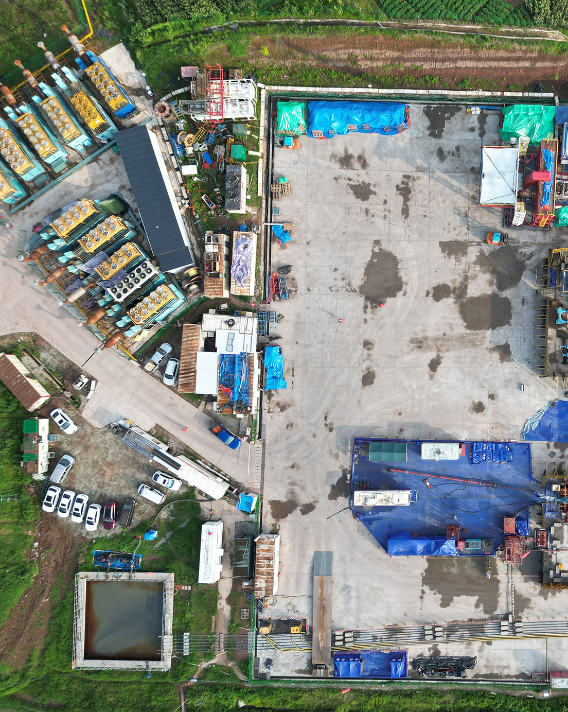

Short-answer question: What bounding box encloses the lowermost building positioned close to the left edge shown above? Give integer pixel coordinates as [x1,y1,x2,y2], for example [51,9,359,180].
[22,418,50,474]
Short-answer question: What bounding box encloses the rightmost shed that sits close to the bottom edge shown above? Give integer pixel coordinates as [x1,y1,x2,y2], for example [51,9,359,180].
[549,667,568,688]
